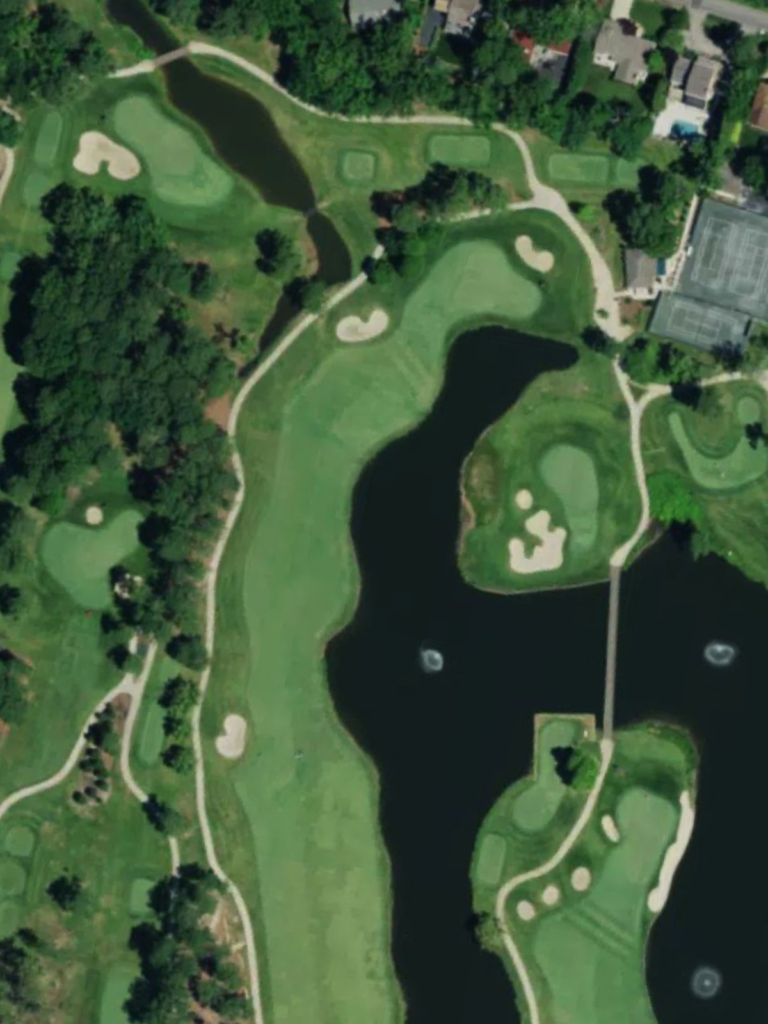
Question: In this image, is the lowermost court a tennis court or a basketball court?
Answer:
tennis court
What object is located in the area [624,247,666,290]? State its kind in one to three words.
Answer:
building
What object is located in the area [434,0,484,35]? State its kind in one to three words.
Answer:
house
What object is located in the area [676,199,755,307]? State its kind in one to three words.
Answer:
tennis court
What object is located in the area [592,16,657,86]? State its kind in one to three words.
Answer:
house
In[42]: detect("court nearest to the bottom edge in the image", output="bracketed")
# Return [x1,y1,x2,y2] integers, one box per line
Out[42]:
[650,293,753,359]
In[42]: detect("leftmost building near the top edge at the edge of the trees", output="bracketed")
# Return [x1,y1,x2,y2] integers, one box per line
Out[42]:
[344,0,399,28]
